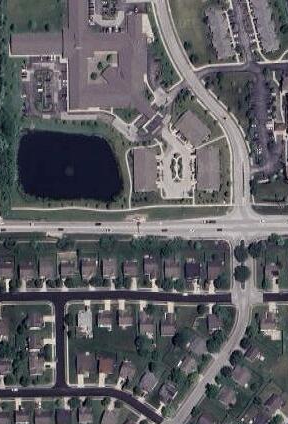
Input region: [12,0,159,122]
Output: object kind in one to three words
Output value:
house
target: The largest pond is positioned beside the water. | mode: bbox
[17,129,125,201]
